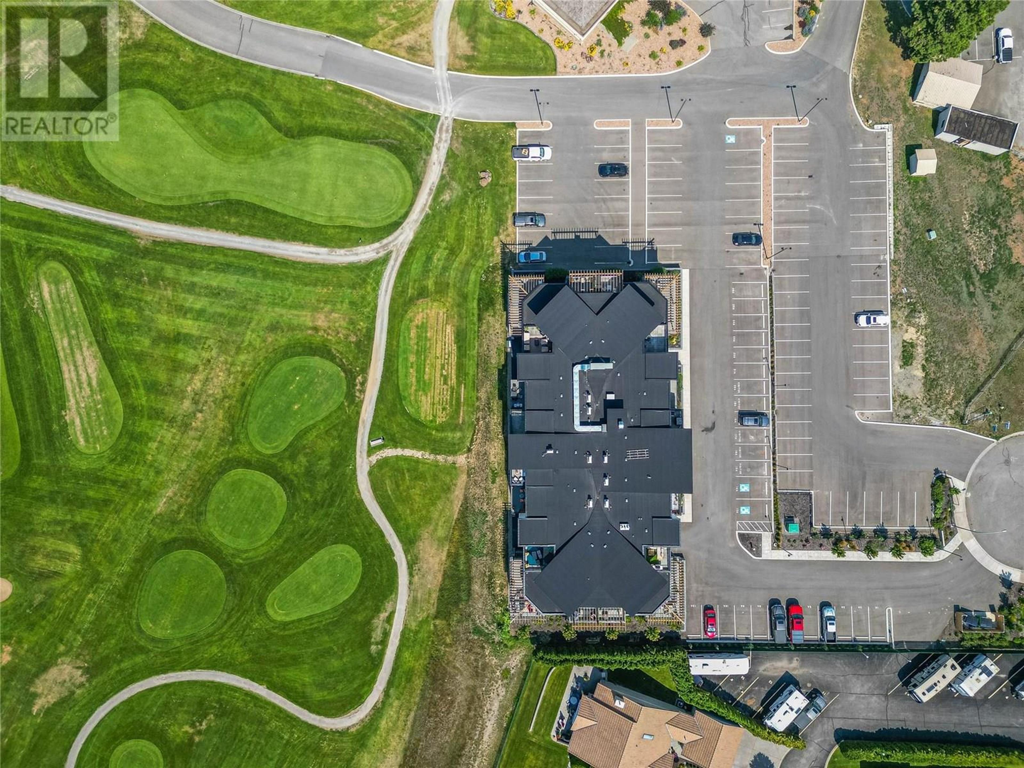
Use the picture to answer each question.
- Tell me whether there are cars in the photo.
Yes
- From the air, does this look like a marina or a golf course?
golf course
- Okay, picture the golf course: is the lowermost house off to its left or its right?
right of it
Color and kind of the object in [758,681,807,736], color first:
white trailer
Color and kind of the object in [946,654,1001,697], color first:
white trailer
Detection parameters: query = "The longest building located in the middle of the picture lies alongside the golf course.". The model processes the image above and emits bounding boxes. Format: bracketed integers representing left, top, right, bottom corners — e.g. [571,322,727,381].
[508,270,693,632]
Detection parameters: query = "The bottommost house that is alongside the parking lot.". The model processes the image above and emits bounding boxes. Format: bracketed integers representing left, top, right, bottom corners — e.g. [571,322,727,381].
[568,676,743,768]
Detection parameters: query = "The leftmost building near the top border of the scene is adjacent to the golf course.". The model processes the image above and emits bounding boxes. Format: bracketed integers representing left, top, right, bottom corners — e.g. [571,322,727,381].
[528,0,620,49]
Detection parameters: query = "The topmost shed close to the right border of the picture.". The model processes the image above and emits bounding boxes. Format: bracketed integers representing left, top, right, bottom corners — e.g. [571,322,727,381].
[904,59,983,117]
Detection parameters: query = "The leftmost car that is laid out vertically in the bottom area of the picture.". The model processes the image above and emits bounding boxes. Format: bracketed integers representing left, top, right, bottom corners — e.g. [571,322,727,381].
[703,609,718,639]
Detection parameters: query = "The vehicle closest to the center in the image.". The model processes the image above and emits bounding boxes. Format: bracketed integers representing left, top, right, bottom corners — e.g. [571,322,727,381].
[519,250,547,264]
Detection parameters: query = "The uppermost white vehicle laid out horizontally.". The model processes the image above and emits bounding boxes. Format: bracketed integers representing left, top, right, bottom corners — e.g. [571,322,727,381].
[512,144,551,162]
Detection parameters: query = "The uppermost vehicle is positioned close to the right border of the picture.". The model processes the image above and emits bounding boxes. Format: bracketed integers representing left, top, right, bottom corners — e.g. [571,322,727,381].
[995,27,1015,66]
